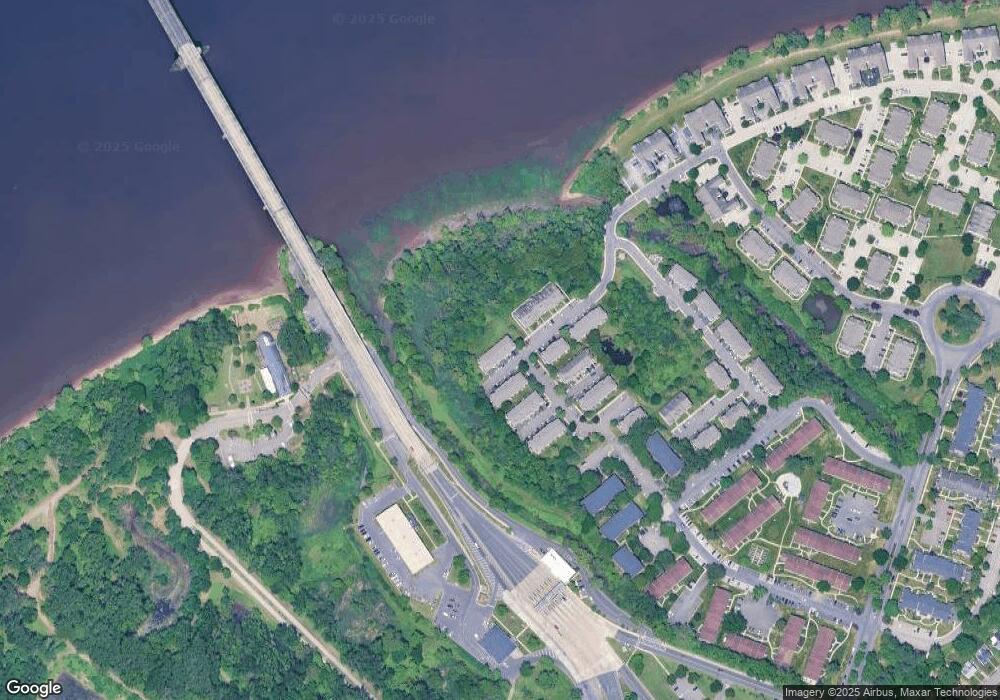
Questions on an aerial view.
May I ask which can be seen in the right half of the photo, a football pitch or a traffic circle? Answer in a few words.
traffic circle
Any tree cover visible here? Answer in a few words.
Yes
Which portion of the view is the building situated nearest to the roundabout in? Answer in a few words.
right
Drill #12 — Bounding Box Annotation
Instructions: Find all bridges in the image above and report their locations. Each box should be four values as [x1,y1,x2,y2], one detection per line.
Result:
[149,0,441,474]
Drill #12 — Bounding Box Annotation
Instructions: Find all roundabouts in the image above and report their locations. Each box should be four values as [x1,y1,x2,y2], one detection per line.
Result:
[919,277,997,356]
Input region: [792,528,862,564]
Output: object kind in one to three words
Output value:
building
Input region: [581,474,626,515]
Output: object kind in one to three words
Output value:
building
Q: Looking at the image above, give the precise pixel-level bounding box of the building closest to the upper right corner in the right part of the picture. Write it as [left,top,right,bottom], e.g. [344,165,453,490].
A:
[962,26,1000,67]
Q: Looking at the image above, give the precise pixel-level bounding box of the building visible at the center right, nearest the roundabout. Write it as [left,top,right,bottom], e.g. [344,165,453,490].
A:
[883,334,918,379]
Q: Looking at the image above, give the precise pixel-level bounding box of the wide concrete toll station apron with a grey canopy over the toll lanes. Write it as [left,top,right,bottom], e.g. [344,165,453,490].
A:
[501,562,626,682]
